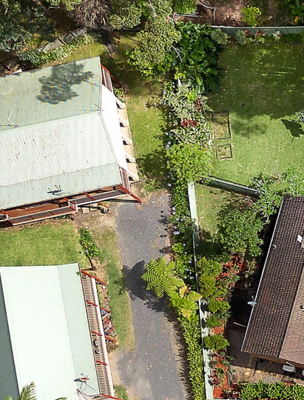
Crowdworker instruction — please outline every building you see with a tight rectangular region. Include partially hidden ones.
[0,262,128,400]
[240,197,304,365]
[0,55,146,236]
